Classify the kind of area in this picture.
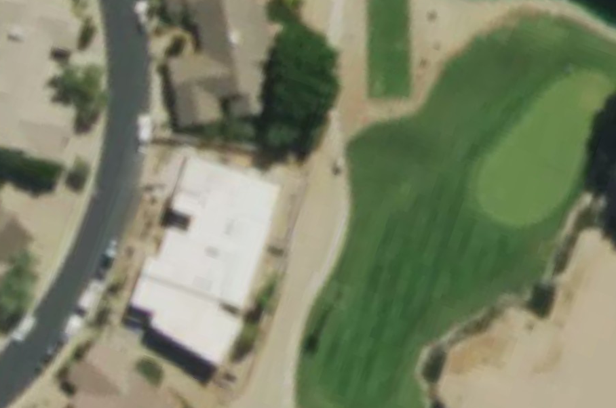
residential area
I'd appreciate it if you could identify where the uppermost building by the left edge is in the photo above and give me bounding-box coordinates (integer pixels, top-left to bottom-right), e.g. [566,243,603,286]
[0,0,84,158]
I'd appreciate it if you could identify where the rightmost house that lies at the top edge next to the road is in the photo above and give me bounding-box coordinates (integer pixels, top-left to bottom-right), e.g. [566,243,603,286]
[163,0,266,127]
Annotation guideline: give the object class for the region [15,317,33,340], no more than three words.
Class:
car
